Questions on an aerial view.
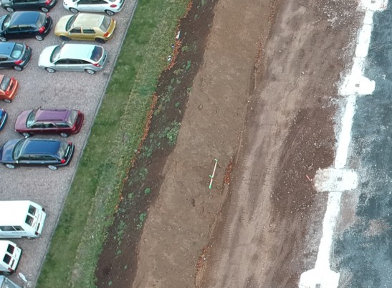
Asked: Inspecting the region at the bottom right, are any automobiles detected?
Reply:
No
